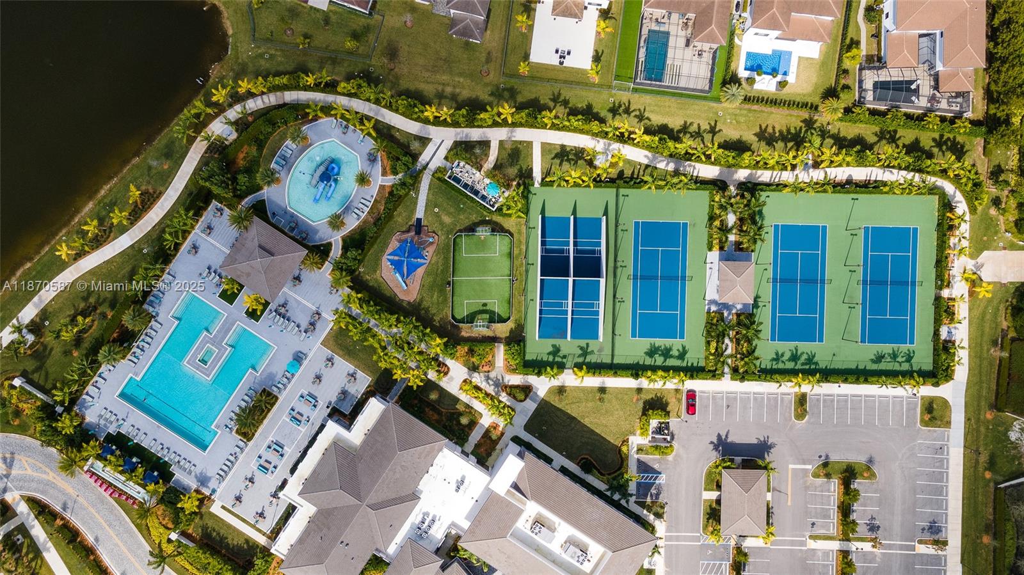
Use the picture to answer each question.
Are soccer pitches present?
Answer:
Yes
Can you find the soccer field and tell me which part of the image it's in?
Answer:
center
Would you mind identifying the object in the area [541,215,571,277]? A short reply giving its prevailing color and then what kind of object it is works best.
blue sports court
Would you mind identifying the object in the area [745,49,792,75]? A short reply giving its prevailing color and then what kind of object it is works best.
blue swimming pool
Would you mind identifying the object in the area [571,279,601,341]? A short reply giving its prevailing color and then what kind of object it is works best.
blue sports court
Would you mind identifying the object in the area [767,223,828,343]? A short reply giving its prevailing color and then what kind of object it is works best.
blue tennis court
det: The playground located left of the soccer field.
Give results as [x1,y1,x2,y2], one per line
[381,225,439,302]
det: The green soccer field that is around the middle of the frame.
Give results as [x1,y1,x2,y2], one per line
[450,226,513,331]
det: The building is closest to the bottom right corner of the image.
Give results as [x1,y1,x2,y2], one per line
[718,468,767,536]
